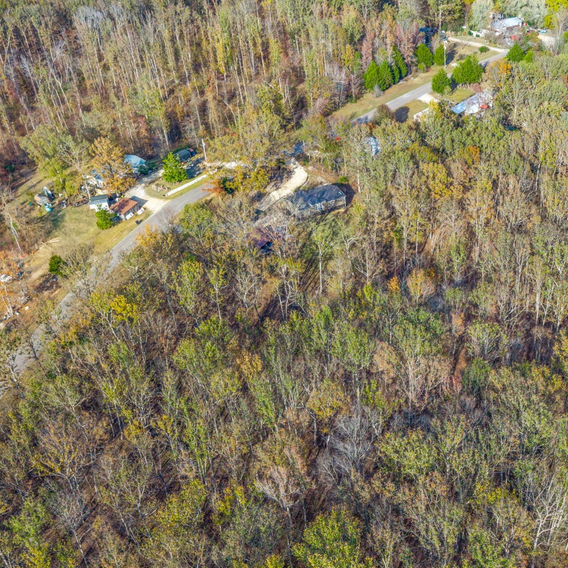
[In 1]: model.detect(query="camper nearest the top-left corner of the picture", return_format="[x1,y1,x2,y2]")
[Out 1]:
[34,192,52,204]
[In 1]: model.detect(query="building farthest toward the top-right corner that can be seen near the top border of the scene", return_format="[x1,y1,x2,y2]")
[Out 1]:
[475,12,526,39]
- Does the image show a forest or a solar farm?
forest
